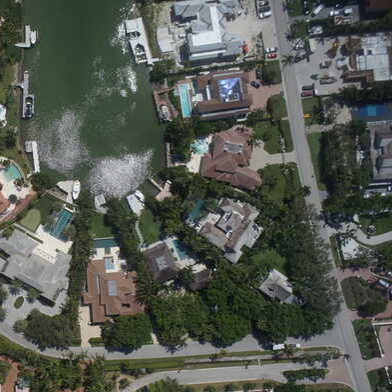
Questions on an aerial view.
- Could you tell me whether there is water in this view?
Yes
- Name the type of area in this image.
residential area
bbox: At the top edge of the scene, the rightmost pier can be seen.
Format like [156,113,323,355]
[124,17,162,65]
